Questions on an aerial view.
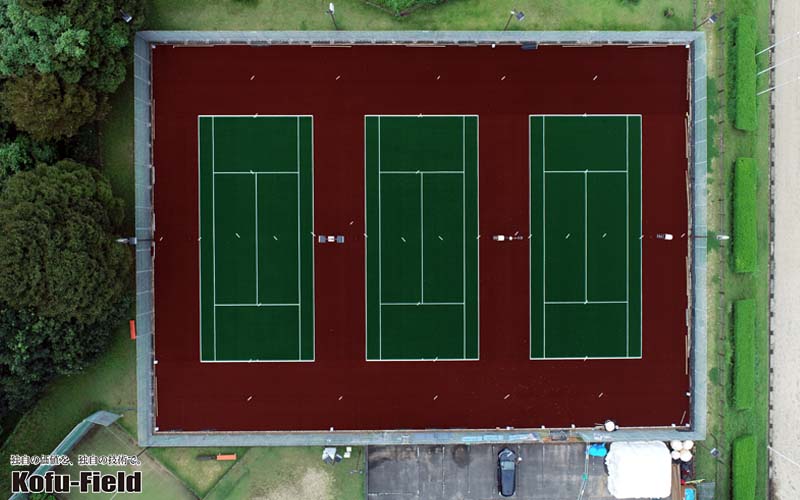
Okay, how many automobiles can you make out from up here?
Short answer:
1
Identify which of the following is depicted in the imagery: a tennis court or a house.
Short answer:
tennis court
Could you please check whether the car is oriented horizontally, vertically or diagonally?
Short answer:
vertically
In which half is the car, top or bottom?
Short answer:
bottom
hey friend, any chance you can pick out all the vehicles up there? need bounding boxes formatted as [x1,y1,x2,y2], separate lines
[496,447,519,497]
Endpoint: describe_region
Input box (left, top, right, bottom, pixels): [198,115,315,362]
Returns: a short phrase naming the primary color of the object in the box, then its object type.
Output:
green tennis court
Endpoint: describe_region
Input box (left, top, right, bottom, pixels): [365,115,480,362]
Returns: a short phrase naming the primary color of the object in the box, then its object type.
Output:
green tennis court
